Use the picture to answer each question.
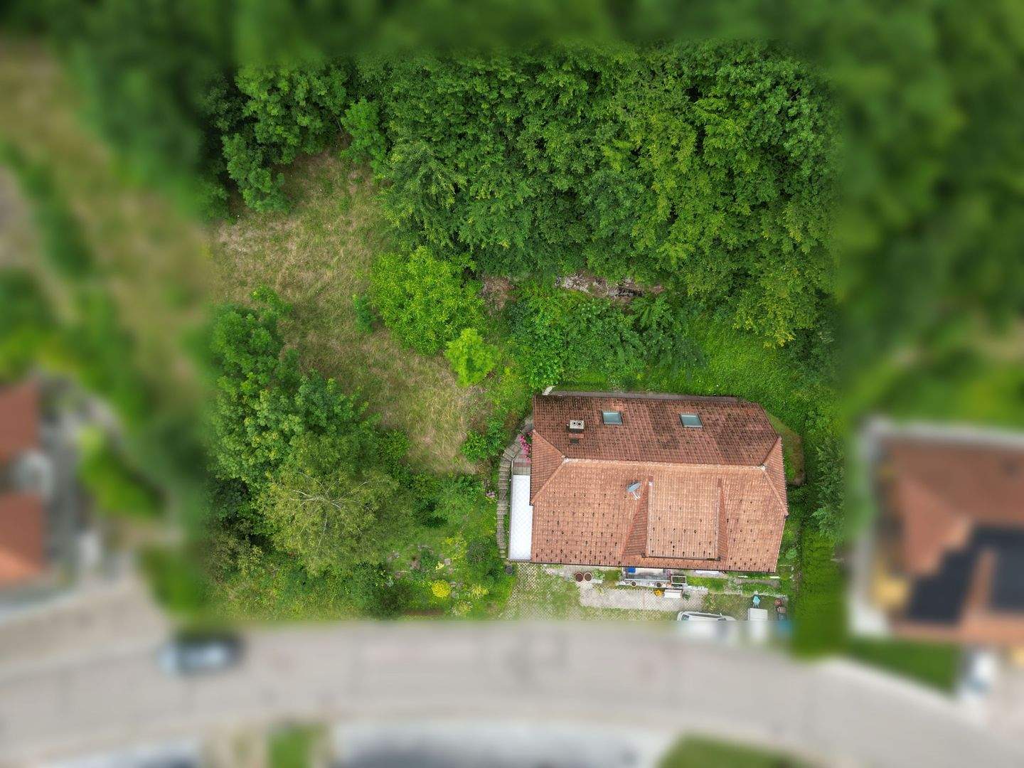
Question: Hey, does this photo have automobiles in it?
Yes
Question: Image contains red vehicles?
No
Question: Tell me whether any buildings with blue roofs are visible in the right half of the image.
No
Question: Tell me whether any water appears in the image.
No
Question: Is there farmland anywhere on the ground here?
No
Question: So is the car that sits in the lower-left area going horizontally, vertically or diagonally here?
horizontally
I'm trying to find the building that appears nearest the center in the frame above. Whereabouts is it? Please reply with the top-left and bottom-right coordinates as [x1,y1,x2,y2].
[527,393,790,574]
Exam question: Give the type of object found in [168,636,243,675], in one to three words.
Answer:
car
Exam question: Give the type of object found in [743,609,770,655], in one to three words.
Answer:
trailer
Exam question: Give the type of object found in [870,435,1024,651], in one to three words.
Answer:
house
